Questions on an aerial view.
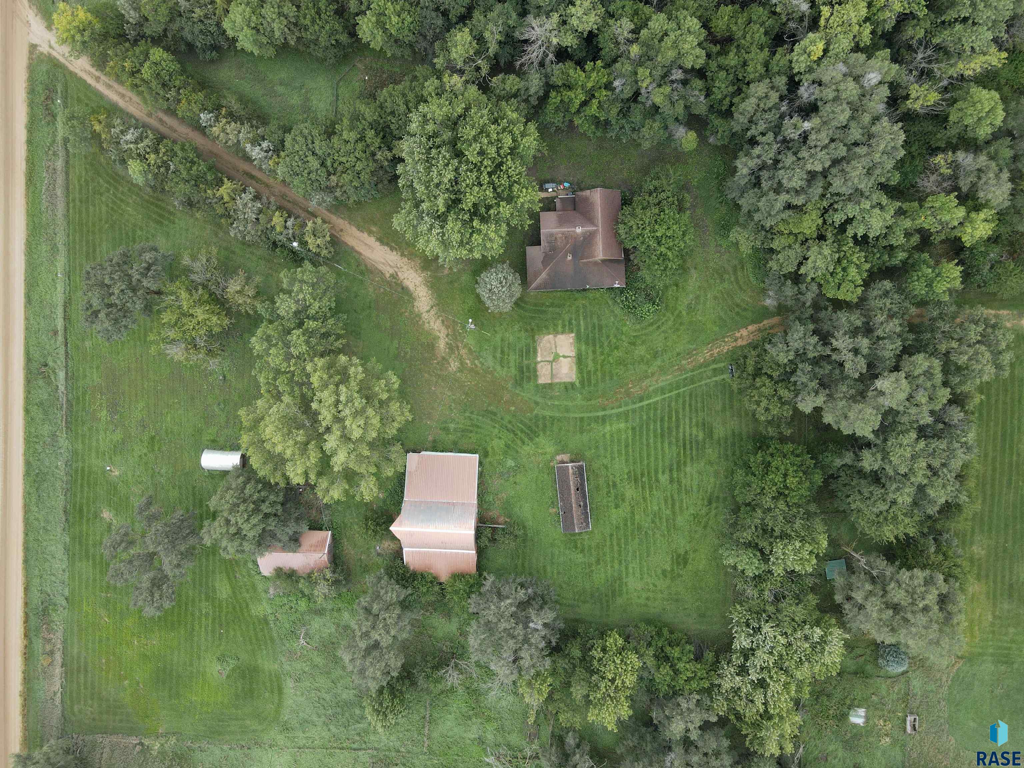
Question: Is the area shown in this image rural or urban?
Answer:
rural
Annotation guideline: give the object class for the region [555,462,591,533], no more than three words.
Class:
shed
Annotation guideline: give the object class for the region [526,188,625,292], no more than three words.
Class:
house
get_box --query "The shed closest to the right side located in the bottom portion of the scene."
[828,561,850,583]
